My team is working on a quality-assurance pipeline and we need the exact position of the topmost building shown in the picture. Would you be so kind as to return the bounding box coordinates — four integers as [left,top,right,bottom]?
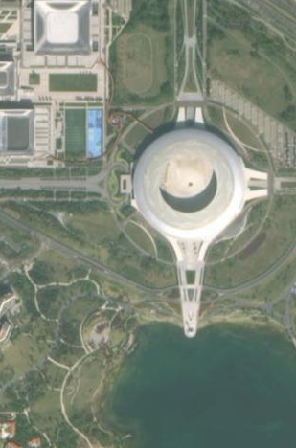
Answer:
[34,0,91,54]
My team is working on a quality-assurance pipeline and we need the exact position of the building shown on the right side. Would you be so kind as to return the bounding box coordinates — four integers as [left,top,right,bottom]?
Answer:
[120,107,268,338]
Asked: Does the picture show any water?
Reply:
Yes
